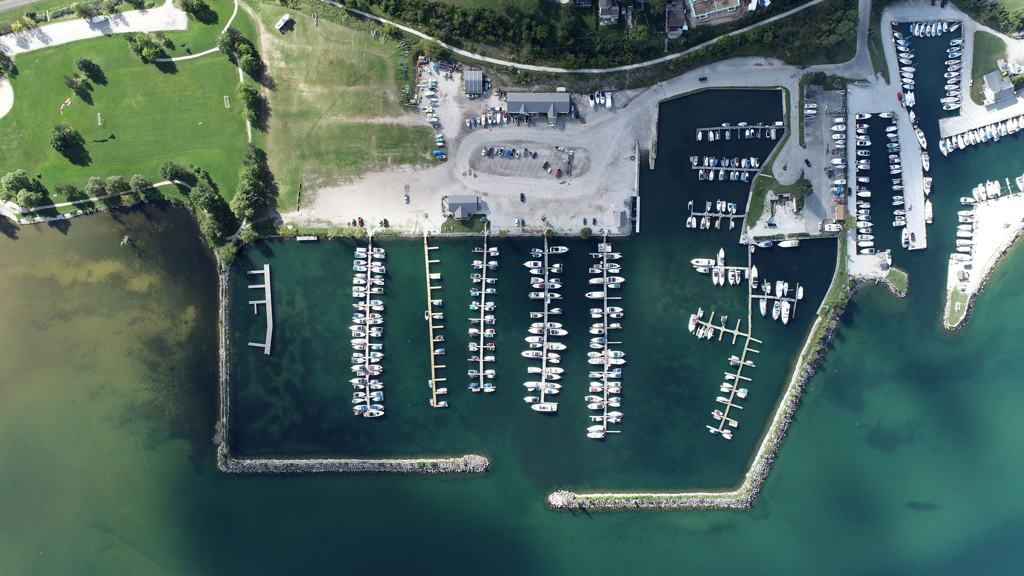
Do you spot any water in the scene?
Yes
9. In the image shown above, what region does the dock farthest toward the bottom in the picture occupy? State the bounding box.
[706,337,763,436]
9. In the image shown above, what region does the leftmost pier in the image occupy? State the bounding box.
[246,265,273,354]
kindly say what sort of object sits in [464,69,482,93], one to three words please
shed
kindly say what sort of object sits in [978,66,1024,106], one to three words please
house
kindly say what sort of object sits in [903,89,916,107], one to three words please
boat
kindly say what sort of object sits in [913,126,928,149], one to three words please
boat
